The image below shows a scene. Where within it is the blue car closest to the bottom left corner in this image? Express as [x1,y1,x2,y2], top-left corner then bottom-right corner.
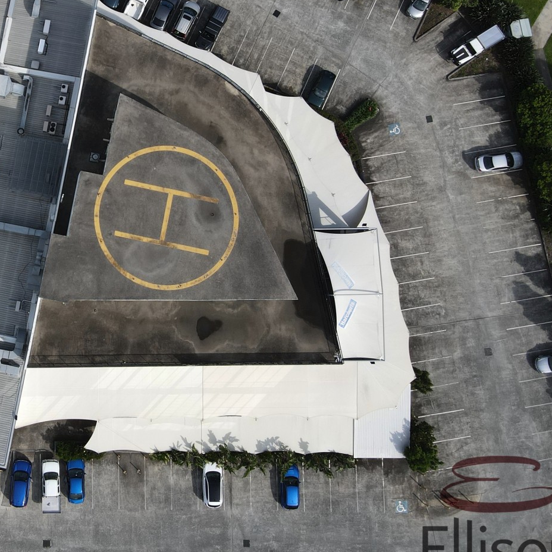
[10,458,33,510]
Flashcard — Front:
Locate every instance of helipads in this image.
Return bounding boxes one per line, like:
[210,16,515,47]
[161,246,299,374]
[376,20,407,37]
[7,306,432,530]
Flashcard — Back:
[39,94,298,300]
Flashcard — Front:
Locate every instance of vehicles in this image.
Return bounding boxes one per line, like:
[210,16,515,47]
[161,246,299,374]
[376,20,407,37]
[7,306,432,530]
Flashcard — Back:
[149,0,177,30]
[473,148,524,174]
[124,0,149,21]
[532,351,552,374]
[104,0,123,9]
[39,458,62,513]
[10,458,33,510]
[202,471,227,509]
[65,459,88,504]
[279,471,306,511]
[405,0,432,19]
[171,1,200,40]
[308,61,340,109]
[448,21,510,67]
[196,4,232,50]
